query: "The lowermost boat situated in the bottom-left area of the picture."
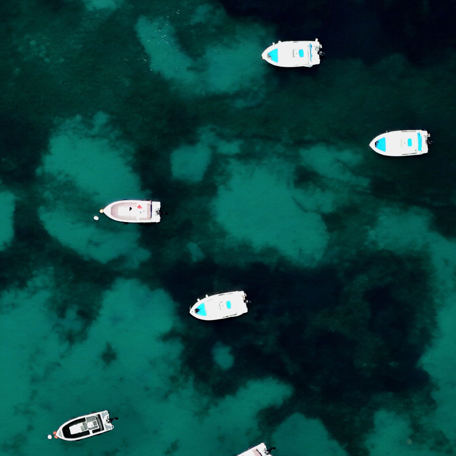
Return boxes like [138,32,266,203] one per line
[55,411,117,440]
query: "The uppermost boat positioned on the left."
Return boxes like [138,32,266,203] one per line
[103,200,167,222]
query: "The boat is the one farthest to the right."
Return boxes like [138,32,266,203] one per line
[369,131,433,156]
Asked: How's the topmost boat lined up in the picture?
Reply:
from left to right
